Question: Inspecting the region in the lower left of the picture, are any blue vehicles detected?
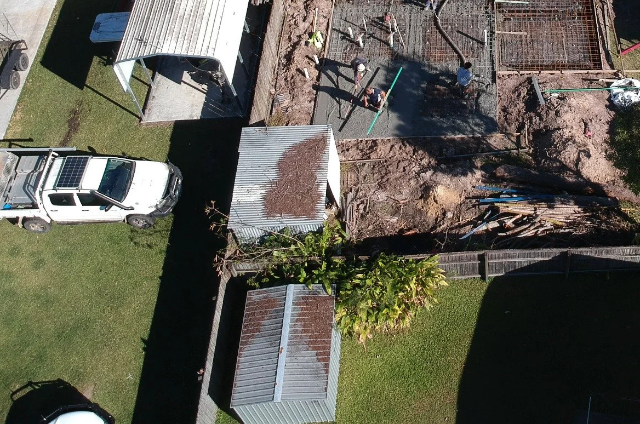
No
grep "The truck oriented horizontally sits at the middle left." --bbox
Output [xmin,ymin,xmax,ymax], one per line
[0,144,187,236]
